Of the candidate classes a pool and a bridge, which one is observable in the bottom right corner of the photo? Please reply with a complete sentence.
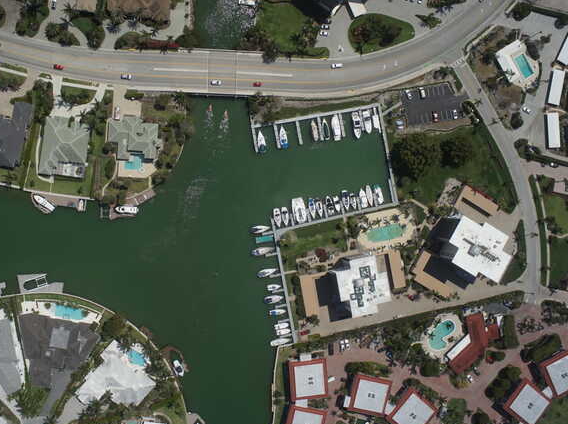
The one visible in the bottom right corner of the photo is a pool.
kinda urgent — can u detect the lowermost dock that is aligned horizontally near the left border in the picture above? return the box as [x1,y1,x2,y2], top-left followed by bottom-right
[17,273,63,293]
